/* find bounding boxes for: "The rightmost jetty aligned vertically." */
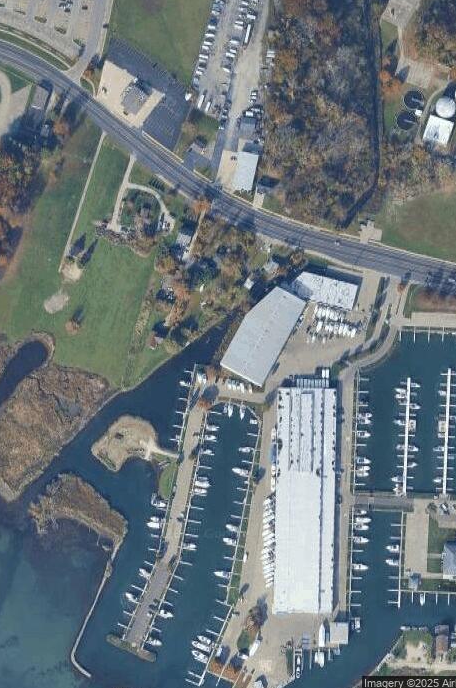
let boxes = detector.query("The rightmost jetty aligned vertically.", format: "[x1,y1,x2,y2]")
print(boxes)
[436,368,456,495]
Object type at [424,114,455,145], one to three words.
building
